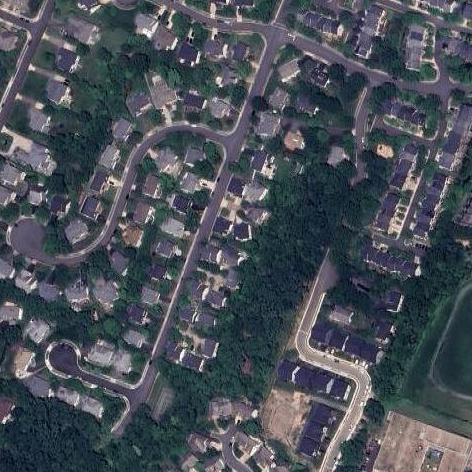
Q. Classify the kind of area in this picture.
residential area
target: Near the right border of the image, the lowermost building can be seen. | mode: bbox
[368,411,472,472]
